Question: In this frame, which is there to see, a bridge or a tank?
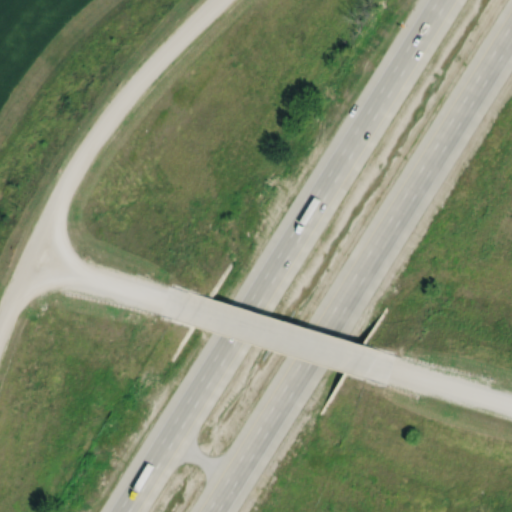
bridge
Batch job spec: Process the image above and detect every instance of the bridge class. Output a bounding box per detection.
[163,264,398,413]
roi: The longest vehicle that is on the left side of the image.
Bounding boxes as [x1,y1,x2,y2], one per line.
[130,464,154,498]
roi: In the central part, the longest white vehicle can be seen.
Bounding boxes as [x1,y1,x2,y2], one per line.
[296,198,320,233]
